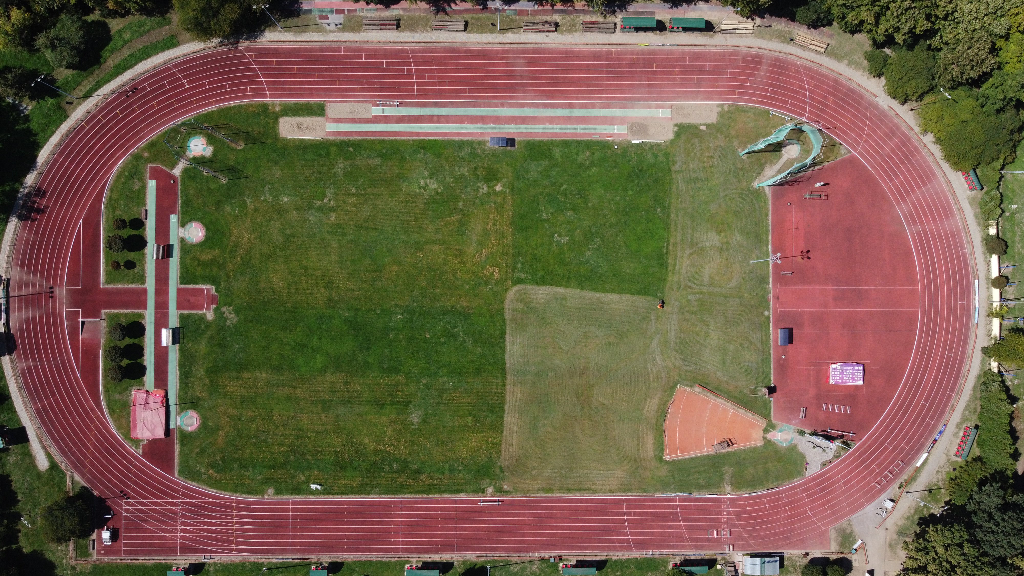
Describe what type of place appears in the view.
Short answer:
sports ground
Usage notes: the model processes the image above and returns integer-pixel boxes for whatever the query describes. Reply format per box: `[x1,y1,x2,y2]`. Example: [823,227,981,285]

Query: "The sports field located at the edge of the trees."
[101,101,856,499]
